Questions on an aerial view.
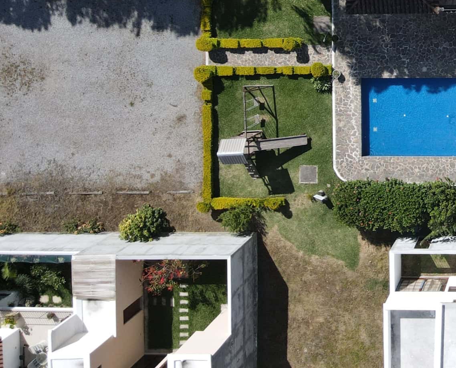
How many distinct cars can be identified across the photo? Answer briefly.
0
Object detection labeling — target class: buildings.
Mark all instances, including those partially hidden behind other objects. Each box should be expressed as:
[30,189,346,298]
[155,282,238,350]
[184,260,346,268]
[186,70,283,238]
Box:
[0,232,255,368]
[383,238,456,368]
[343,0,442,16]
